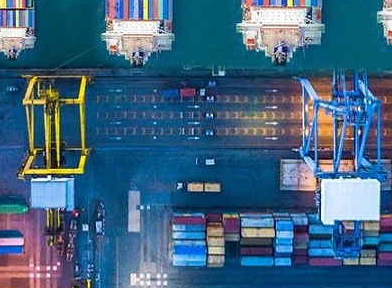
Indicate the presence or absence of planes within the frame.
No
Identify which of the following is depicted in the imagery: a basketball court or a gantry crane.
gantry crane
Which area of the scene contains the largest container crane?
right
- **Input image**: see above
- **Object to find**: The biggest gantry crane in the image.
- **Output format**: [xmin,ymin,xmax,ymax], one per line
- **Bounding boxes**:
[290,64,379,266]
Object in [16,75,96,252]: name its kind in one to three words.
container crane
